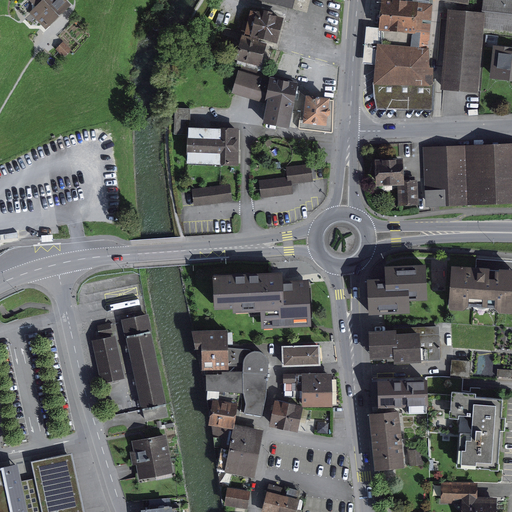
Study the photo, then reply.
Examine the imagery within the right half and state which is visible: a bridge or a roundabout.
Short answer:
roundabout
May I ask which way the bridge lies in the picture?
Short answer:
from side to side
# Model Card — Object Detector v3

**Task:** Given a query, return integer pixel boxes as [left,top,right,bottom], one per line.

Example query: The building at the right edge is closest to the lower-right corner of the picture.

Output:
[439,482,497,512]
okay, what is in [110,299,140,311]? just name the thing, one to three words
vehicle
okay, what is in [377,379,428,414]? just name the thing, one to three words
house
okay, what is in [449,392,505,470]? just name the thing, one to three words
building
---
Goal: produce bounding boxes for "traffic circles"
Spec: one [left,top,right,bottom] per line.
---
[308,206,377,274]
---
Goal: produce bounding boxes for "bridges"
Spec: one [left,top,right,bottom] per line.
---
[129,236,190,269]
